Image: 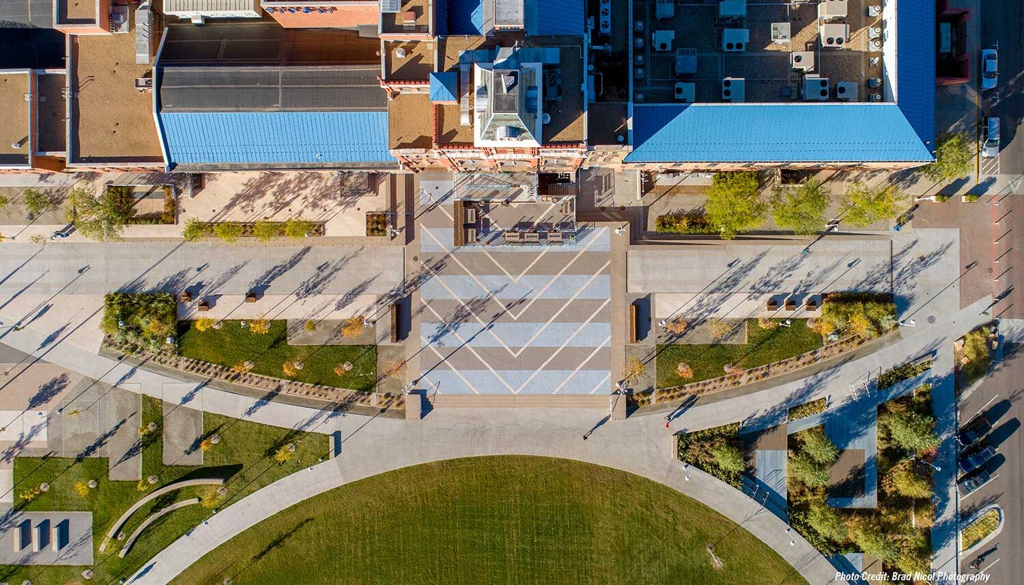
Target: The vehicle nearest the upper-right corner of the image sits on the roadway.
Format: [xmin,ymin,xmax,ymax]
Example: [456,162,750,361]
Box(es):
[979,48,1001,88]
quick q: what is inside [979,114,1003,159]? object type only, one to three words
truck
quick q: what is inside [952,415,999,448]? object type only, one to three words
truck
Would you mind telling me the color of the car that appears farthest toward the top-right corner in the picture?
blue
